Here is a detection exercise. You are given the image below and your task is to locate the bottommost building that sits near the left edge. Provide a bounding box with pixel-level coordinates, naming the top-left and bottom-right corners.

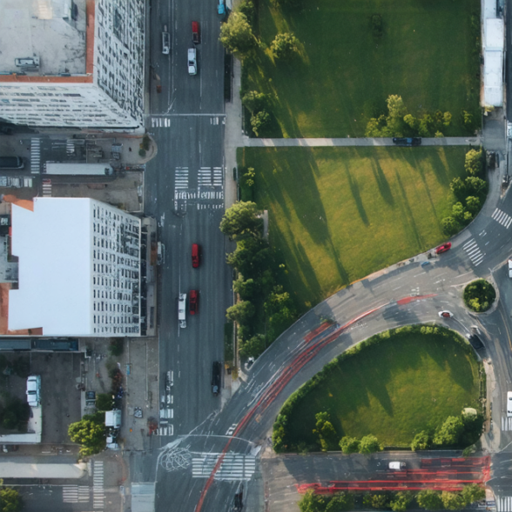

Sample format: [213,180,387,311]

[0,196,155,337]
